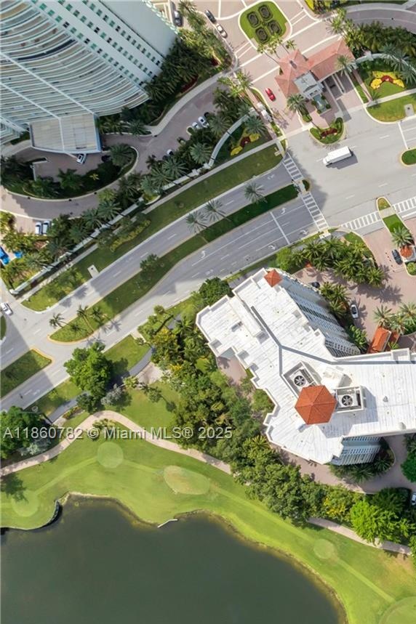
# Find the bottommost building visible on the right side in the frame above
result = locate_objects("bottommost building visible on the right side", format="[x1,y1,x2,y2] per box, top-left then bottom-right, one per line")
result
[197,269,416,464]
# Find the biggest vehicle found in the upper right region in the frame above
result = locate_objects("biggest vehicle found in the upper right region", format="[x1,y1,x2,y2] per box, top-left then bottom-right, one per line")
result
[324,147,351,165]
